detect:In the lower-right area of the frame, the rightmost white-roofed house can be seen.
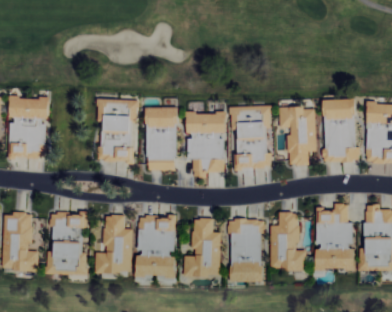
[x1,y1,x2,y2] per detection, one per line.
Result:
[359,205,392,272]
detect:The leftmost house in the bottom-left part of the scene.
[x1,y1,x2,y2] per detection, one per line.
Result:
[2,212,39,273]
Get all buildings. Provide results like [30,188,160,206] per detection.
[315,203,357,272]
[96,98,139,165]
[322,99,362,162]
[8,96,50,158]
[94,214,133,277]
[366,100,392,164]
[229,107,272,174]
[359,205,392,272]
[270,212,307,273]
[134,214,177,280]
[228,218,266,283]
[183,218,222,278]
[2,212,39,273]
[279,106,318,166]
[186,112,226,177]
[44,210,88,277]
[144,106,178,172]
